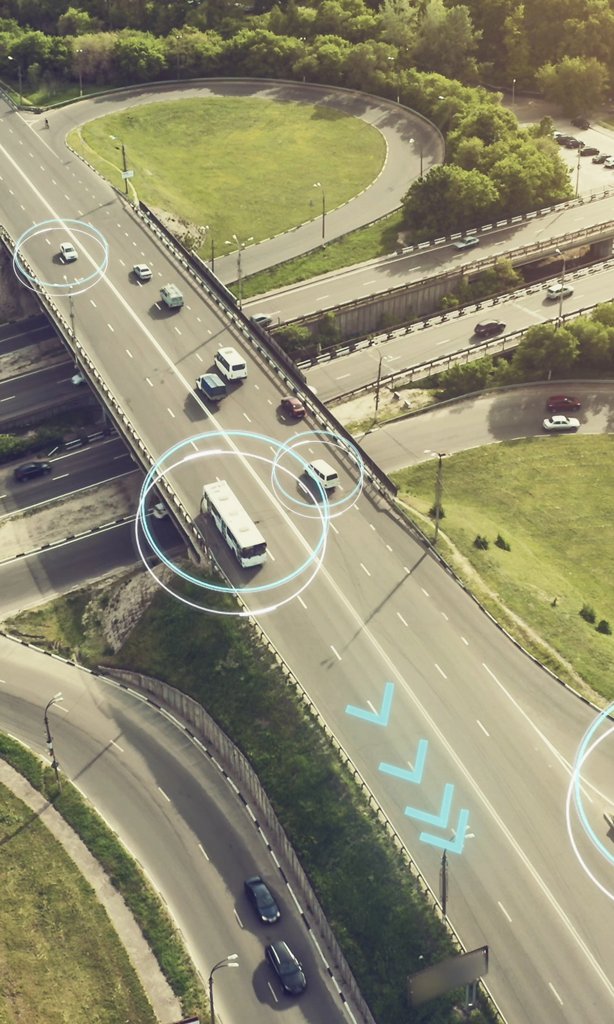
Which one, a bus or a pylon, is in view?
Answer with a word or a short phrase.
bus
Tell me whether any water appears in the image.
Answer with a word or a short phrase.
No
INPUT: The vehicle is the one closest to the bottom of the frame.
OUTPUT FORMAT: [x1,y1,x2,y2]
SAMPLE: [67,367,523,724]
[267,940,304,995]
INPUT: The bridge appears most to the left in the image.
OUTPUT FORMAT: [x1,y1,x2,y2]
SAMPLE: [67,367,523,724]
[0,189,435,599]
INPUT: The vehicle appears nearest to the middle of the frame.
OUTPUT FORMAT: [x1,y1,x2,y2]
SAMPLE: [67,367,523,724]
[307,461,337,491]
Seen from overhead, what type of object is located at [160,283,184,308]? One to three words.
vehicle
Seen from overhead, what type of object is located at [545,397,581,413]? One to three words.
car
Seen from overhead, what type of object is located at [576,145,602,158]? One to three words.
vehicle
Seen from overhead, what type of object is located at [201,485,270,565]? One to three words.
bus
